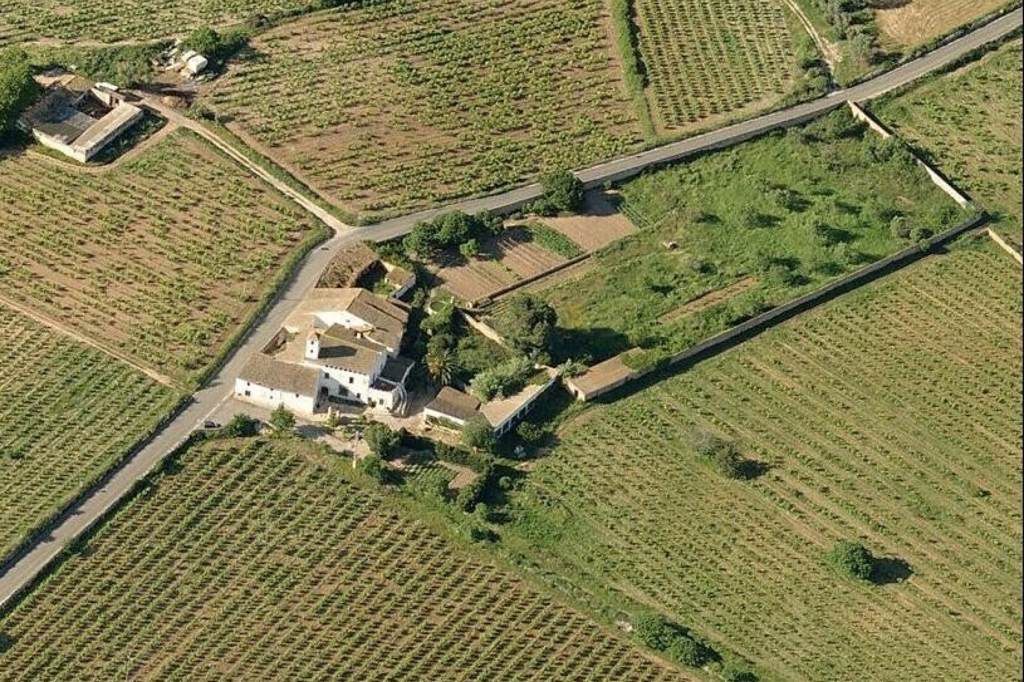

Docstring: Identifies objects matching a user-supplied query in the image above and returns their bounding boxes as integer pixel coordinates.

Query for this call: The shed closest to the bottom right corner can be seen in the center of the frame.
[569,347,647,405]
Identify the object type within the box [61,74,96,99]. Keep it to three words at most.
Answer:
shed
